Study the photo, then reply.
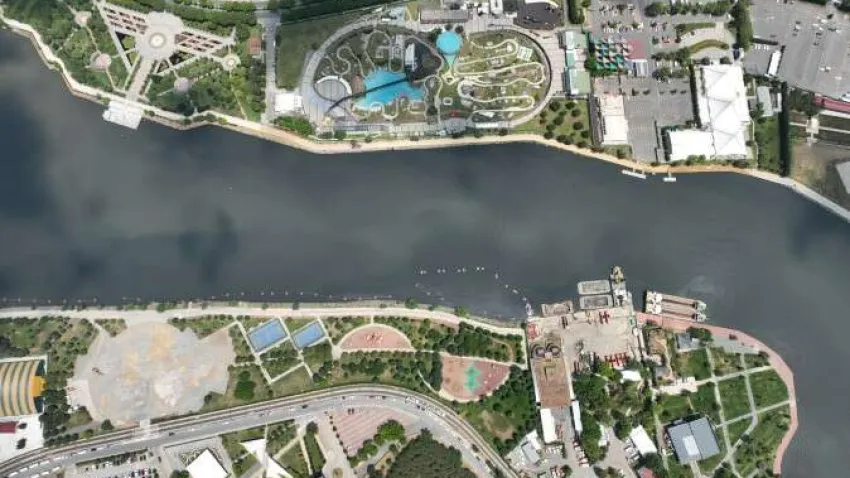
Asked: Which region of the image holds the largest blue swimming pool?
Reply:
top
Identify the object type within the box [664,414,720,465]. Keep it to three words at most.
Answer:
building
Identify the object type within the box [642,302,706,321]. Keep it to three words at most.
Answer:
ship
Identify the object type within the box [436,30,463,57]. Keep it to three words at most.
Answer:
swimming pool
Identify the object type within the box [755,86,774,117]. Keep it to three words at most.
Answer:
shed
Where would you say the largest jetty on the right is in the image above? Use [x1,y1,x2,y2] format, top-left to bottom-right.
[611,281,633,310]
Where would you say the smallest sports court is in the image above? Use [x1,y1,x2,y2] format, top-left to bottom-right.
[291,320,325,349]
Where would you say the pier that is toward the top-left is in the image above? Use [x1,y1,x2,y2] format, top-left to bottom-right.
[102,100,143,130]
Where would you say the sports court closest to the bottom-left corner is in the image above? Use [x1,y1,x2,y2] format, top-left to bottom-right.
[246,318,287,353]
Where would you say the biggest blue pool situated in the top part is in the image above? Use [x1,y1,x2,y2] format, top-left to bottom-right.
[355,69,427,111]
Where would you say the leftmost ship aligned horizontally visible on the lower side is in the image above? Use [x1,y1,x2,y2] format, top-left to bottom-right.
[540,300,574,317]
